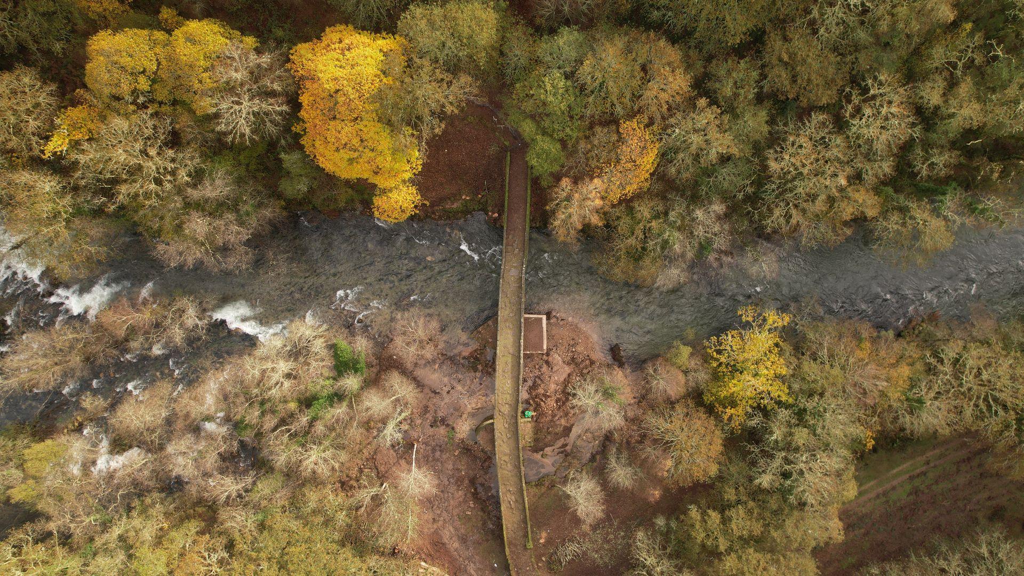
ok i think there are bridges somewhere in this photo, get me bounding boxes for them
[494,151,535,576]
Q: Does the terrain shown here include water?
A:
Yes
